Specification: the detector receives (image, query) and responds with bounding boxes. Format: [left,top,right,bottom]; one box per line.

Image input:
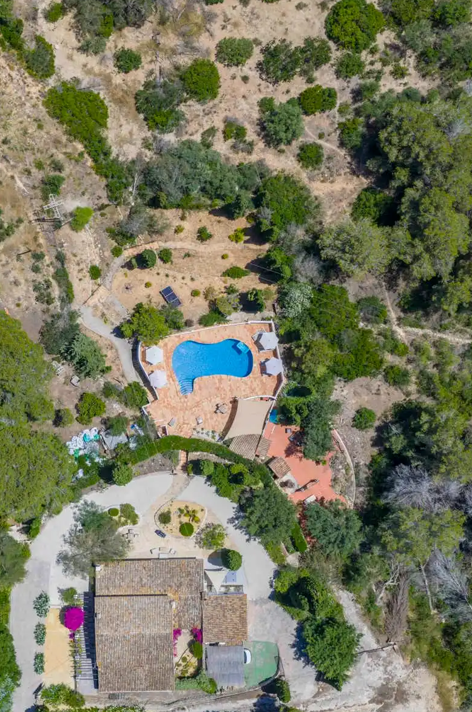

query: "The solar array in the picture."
[159,285,183,308]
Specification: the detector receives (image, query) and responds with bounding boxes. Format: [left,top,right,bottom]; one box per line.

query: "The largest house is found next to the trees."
[94,556,206,693]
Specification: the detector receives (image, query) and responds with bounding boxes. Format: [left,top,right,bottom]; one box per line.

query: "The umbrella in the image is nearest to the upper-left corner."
[144,346,163,364]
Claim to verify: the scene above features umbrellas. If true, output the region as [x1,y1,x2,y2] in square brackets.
[149,371,167,389]
[257,331,276,350]
[263,358,282,374]
[144,346,163,364]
